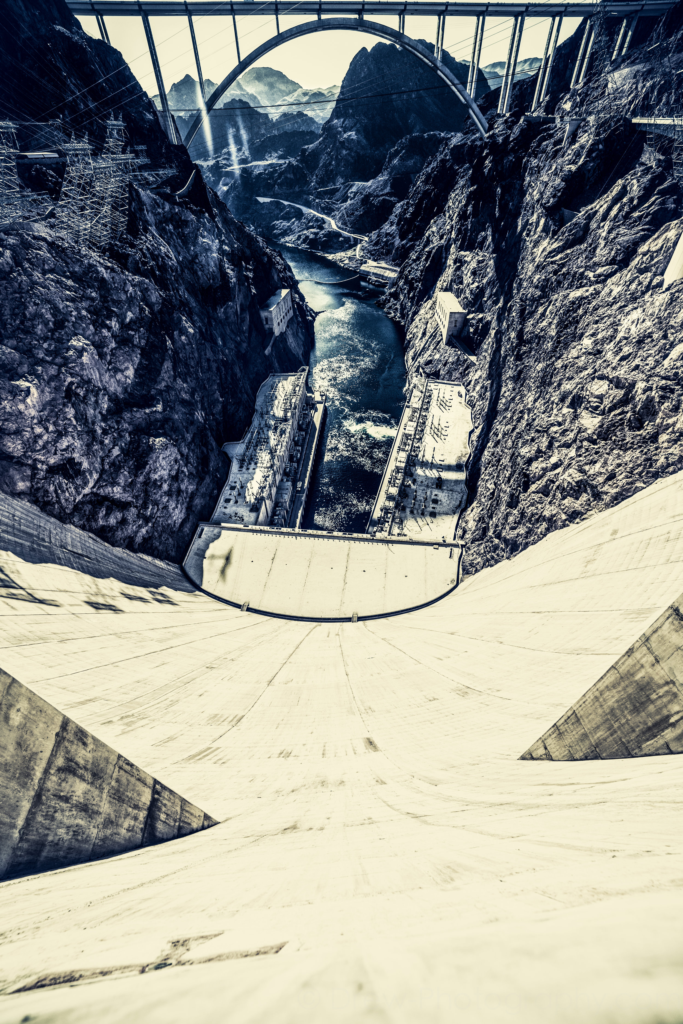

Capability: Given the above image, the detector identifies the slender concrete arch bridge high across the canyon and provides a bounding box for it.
[85,0,671,149]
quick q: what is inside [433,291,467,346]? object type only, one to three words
building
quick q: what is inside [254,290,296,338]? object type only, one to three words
building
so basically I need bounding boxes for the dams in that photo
[0,462,683,1024]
